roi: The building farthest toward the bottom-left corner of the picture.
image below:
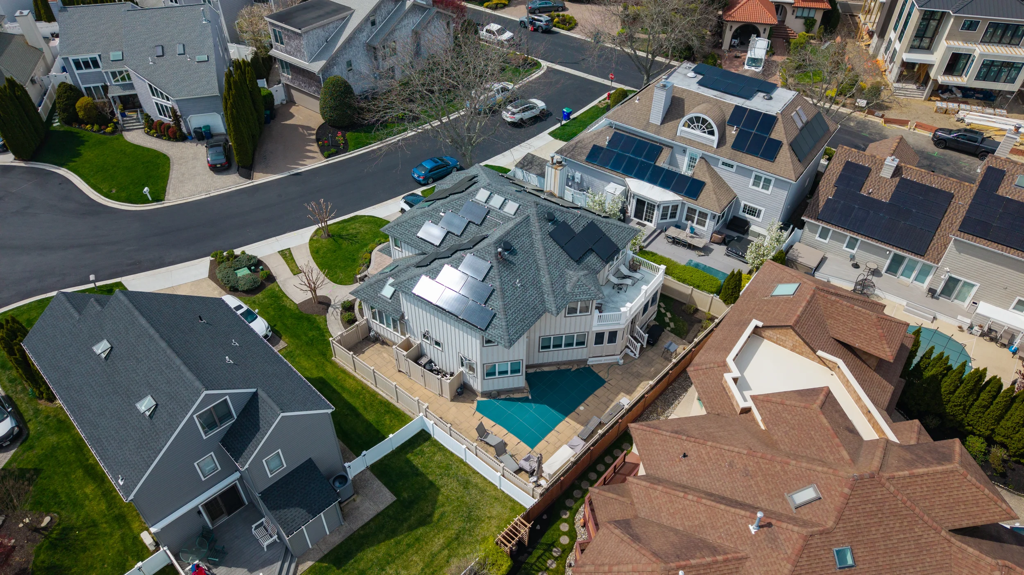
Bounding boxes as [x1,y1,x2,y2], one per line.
[21,288,348,575]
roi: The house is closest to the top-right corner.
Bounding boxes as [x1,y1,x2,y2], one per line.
[857,0,1024,100]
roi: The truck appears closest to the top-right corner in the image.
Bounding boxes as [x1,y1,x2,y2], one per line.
[933,128,996,160]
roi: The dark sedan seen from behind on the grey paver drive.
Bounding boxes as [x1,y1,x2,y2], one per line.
[203,136,229,167]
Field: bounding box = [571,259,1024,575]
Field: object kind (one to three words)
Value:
house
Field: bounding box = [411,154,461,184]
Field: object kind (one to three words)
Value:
car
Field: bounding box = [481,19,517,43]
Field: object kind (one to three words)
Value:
truck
